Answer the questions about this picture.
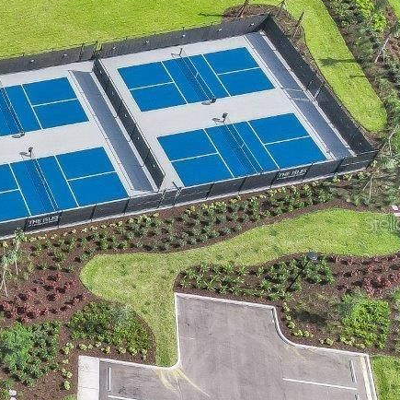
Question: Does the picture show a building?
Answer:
No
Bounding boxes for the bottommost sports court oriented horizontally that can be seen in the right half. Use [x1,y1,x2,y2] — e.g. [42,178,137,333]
[156,113,328,185]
